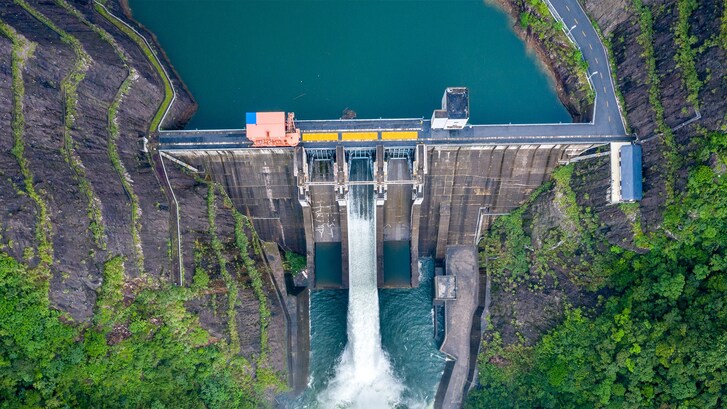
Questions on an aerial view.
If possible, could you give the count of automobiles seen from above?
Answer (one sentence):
The count of automobiles is 0.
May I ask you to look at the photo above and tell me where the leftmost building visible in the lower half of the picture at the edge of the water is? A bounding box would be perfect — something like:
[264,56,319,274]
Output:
[430,275,457,302]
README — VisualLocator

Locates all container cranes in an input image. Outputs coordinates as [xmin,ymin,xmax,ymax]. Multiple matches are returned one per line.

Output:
[241,111,301,148]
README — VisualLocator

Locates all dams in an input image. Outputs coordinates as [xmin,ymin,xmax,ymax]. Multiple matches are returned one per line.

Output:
[160,116,601,291]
